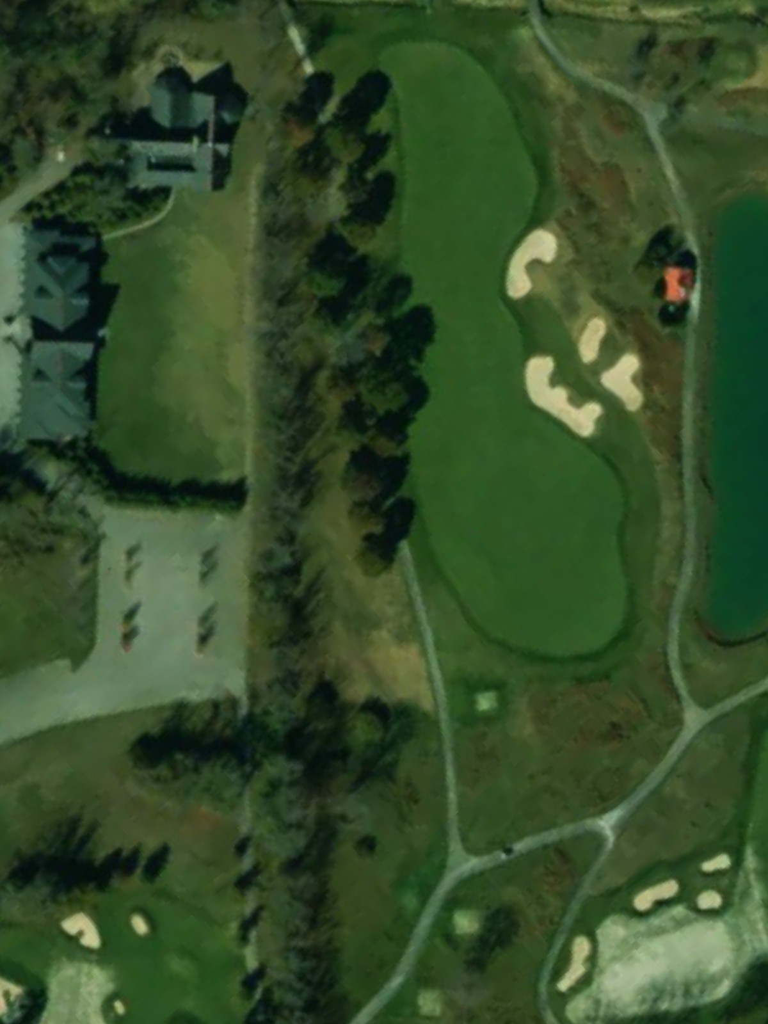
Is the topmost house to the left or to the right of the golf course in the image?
to the left of it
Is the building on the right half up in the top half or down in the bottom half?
top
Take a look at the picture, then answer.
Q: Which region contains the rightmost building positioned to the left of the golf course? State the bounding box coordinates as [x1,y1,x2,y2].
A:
[100,82,239,189]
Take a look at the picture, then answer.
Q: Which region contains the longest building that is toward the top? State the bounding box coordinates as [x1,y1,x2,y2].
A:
[16,228,109,441]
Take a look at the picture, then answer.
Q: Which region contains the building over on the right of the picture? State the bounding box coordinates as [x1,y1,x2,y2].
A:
[665,266,693,301]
